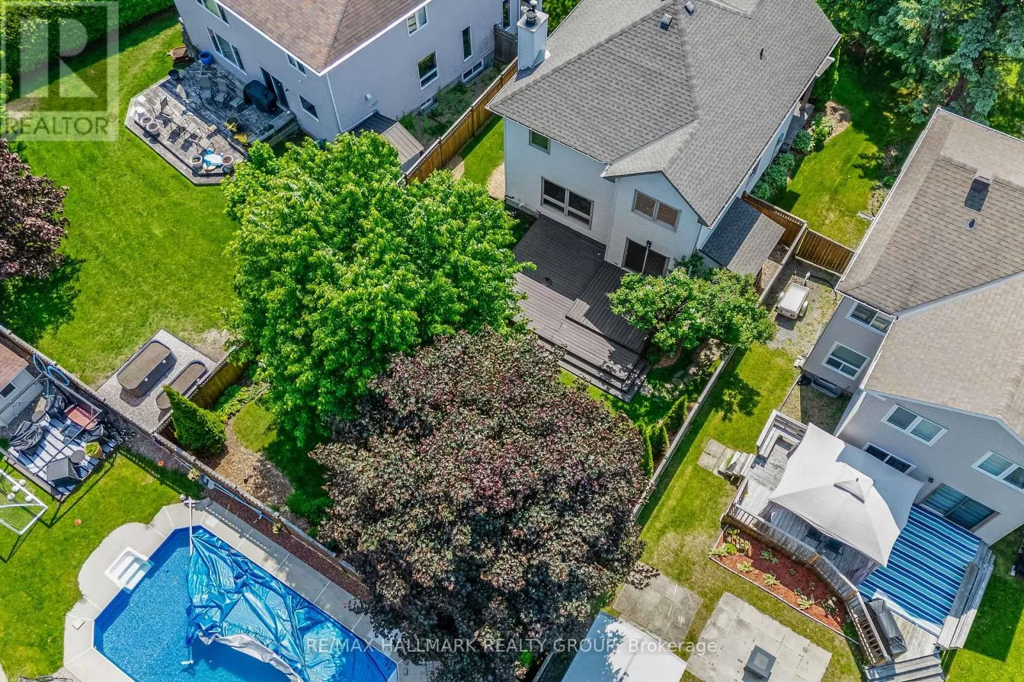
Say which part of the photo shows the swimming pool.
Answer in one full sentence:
The swimming pool is in the bottom left part of the image.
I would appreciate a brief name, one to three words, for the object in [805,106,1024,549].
house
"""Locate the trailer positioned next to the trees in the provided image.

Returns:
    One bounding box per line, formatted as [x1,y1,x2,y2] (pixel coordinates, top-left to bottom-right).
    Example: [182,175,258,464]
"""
[768,273,812,324]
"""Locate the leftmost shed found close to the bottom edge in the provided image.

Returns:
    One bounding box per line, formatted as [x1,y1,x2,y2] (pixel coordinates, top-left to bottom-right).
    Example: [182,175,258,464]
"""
[561,615,686,682]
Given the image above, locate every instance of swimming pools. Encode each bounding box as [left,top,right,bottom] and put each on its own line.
[94,526,399,682]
